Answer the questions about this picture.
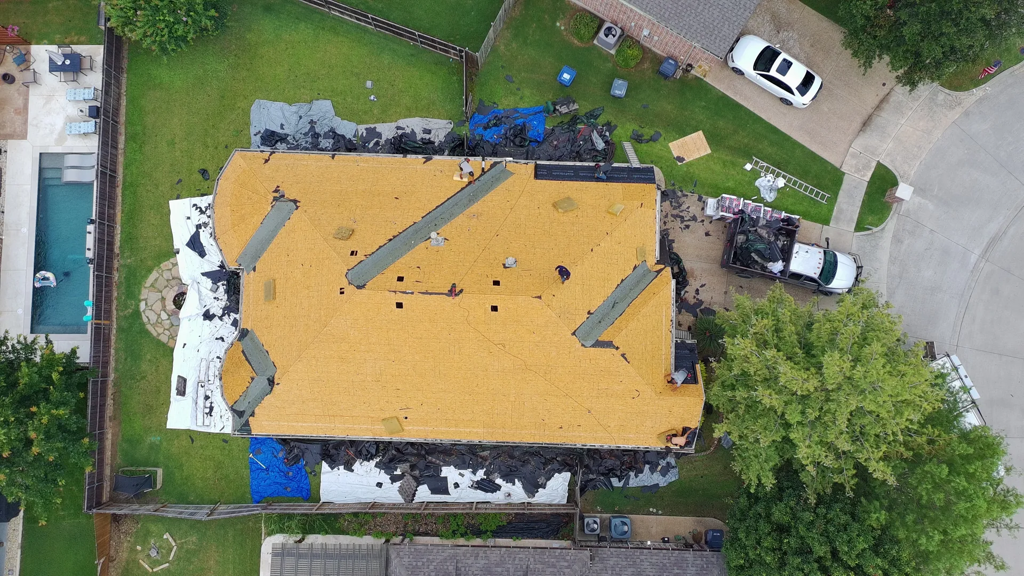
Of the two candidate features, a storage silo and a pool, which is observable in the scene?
pool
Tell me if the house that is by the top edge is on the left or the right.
right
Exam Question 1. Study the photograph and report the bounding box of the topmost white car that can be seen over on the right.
[727,36,826,108]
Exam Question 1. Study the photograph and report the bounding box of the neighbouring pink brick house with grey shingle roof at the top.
[585,0,762,71]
